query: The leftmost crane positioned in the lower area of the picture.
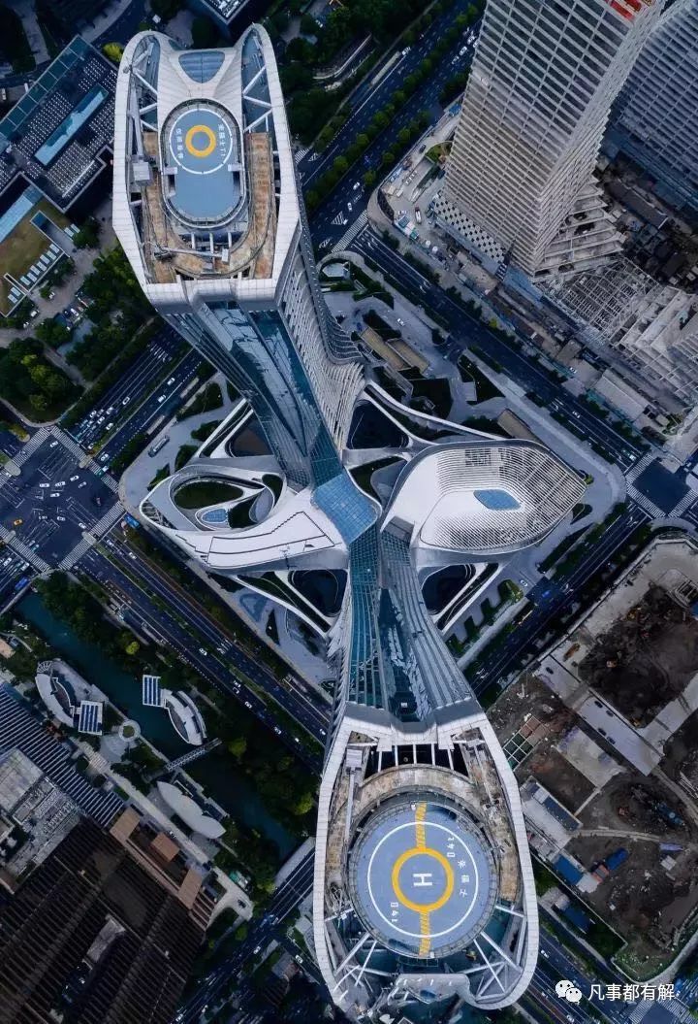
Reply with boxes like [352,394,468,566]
[345,744,363,842]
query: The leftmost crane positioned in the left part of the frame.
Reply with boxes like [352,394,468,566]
[130,105,155,188]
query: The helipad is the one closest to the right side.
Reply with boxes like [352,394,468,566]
[347,790,500,965]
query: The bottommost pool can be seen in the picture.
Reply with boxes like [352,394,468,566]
[237,594,266,622]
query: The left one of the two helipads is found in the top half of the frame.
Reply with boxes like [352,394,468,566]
[160,99,244,233]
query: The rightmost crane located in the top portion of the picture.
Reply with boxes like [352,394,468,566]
[144,240,232,268]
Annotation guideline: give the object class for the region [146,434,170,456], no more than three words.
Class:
bus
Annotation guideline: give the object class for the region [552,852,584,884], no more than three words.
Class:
shed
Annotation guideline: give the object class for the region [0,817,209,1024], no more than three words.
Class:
building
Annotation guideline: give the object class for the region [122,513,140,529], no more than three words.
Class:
vehicle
